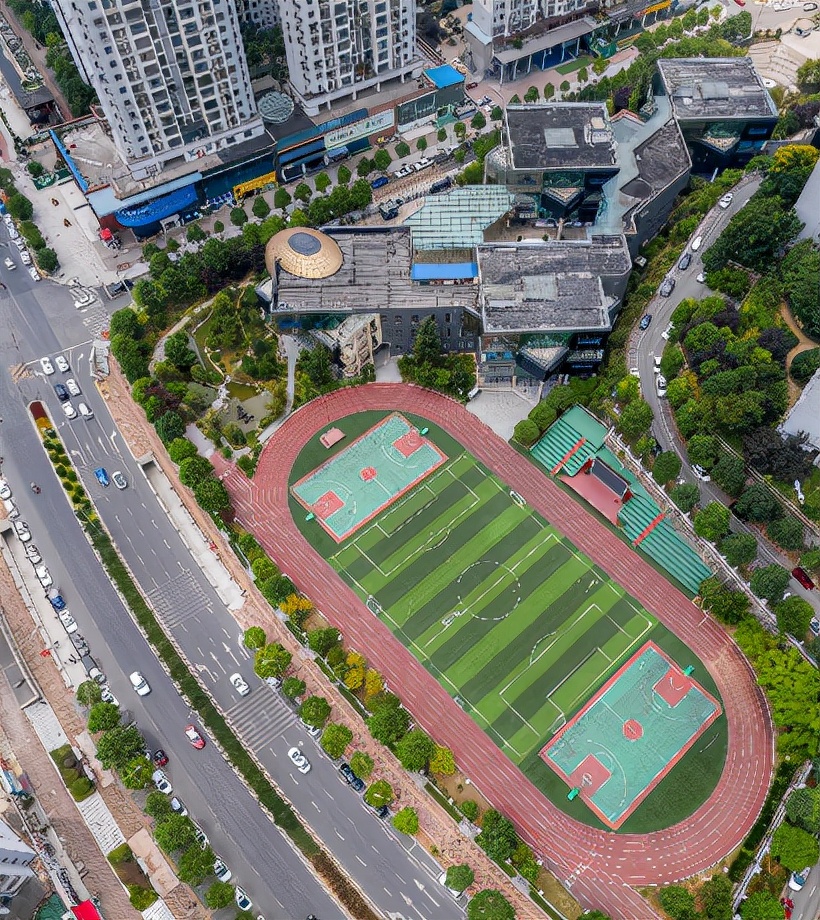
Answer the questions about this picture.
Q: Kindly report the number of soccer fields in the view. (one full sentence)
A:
The picture shows 1 soccer field.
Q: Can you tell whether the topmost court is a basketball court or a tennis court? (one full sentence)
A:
From above, the topmost court can be identified as a basketball court.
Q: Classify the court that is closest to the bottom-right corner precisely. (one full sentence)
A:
Specifically, the court that is closest to the bottom-right corner is a basketball court.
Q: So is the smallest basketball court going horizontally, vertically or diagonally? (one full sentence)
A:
The smallest basketball court has been laid out diagonally relative to the frame.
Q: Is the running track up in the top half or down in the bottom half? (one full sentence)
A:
It is in the bottom half that the running track appears.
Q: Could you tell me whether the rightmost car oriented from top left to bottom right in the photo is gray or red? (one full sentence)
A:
The rightmost car oriented from top left to bottom right looks red in the image.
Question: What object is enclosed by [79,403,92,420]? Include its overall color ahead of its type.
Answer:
white vehicle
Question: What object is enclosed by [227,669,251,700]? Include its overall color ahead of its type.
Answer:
white car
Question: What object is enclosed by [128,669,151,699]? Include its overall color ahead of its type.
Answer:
white car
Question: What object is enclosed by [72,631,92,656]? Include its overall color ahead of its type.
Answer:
gray car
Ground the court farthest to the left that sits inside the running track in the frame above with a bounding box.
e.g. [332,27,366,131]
[290,413,448,543]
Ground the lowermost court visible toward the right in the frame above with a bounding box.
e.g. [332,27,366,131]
[540,641,725,829]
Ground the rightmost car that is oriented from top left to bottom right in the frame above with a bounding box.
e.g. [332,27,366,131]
[788,565,816,591]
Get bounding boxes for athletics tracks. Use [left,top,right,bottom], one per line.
[211,378,779,920]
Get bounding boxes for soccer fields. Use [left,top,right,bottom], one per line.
[327,451,659,762]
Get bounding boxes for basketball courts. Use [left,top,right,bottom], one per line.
[290,413,448,543]
[540,641,725,829]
